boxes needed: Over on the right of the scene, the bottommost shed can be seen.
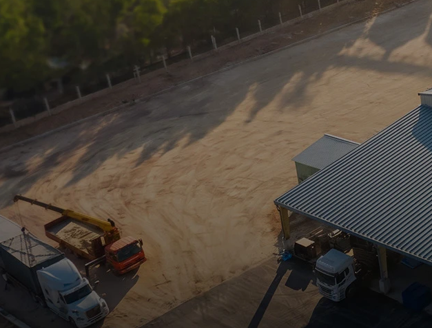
[292,129,370,183]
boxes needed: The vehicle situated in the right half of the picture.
[313,248,378,301]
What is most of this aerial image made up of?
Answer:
paved ground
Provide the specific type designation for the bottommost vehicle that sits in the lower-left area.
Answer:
truck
